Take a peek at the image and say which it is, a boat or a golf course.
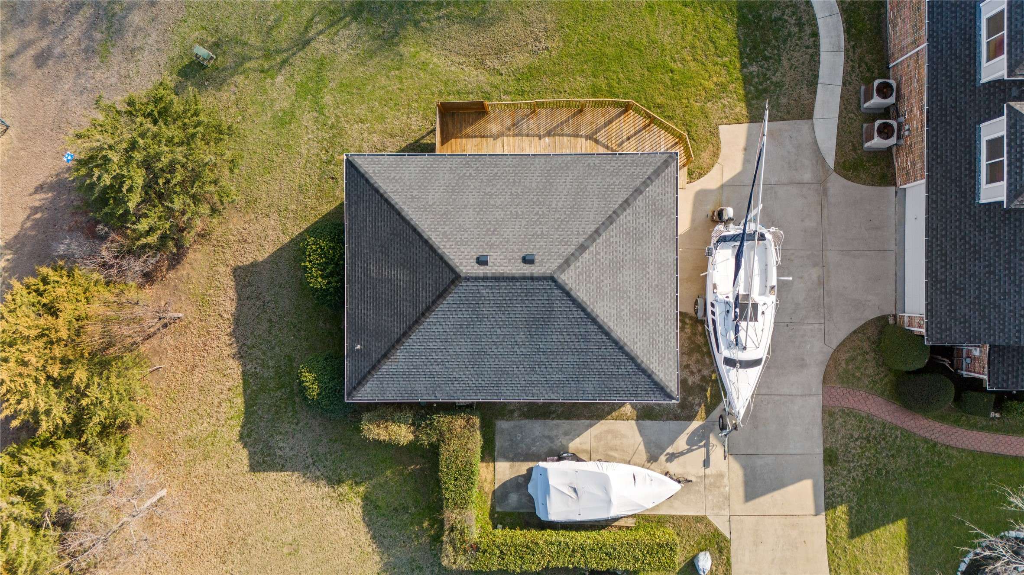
boat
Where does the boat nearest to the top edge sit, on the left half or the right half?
right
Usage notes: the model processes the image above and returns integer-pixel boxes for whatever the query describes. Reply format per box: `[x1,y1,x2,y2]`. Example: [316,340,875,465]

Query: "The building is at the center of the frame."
[343,152,681,408]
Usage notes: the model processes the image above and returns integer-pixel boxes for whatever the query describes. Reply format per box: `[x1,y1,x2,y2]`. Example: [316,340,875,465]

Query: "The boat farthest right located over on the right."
[704,101,783,427]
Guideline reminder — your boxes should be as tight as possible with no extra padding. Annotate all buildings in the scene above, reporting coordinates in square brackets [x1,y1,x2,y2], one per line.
[343,152,681,408]
[886,0,1024,393]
